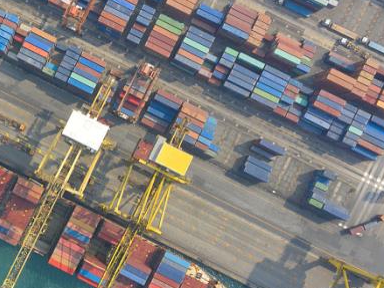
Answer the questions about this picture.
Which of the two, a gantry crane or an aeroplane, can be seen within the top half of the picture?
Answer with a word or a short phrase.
gantry crane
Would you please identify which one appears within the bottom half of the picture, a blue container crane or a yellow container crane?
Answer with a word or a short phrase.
yellow container crane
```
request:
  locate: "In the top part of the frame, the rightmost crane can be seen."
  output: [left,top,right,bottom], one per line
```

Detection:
[106,61,160,127]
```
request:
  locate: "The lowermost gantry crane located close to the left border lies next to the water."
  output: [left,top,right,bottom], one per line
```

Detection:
[1,79,119,288]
